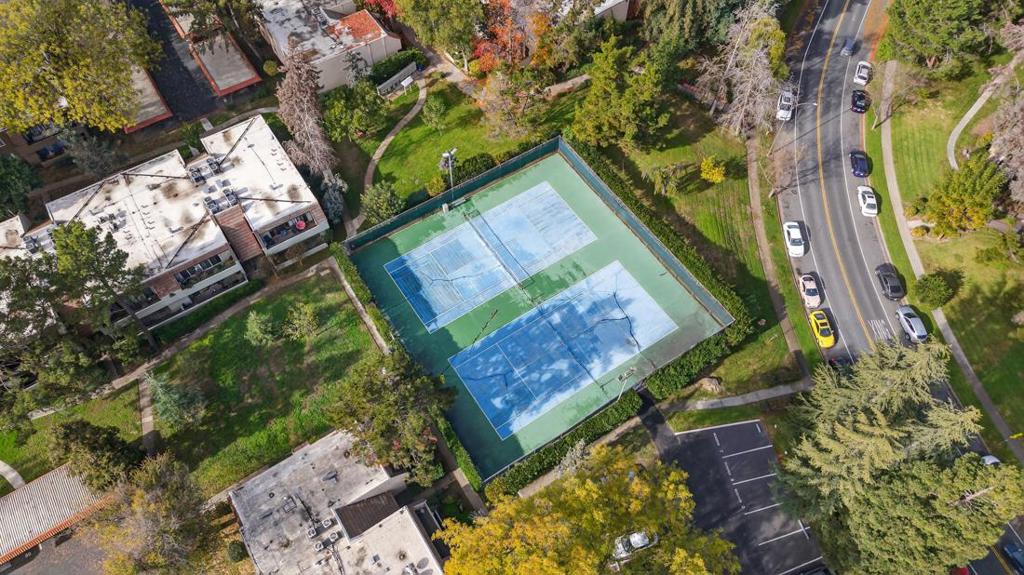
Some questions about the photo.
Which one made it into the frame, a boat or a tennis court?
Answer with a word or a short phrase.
tennis court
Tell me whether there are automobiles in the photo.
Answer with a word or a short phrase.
Yes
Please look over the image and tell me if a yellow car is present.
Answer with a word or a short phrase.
Yes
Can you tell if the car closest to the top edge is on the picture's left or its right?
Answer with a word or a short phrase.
right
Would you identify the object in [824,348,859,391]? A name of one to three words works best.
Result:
car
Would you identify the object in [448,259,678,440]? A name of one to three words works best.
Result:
tennis court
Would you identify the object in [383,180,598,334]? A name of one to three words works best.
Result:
tennis court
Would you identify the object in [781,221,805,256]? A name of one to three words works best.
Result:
car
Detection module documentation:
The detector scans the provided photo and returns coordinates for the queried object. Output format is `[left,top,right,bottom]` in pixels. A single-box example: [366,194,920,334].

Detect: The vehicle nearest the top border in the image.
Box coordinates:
[838,36,860,59]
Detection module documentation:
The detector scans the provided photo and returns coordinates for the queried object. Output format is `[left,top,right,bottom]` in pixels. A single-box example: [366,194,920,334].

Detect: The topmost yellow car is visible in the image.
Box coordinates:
[806,309,835,350]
